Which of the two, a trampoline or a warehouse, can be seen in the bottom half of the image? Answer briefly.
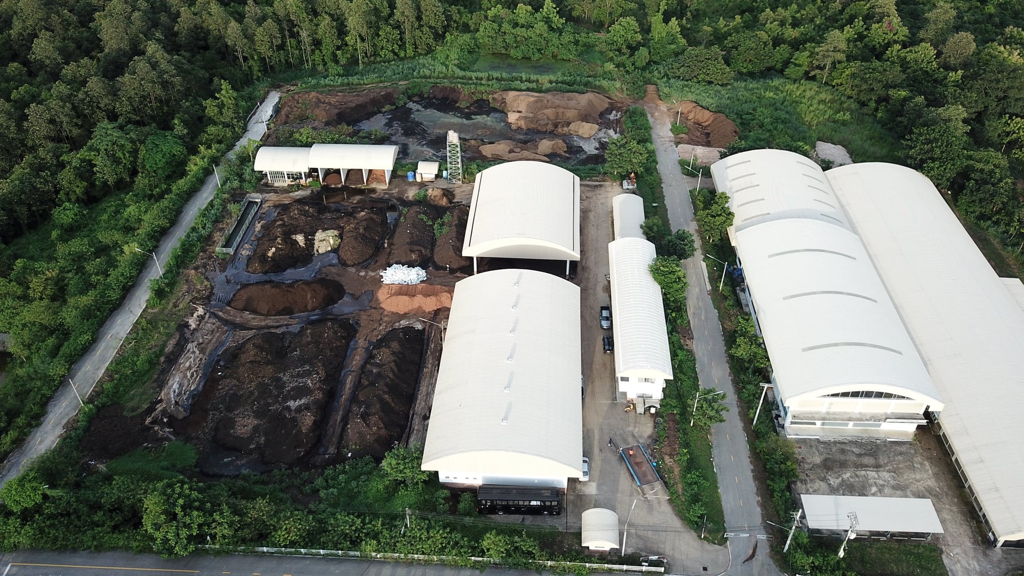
warehouse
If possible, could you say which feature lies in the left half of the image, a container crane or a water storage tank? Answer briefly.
water storage tank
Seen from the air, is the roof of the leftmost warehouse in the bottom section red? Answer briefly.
No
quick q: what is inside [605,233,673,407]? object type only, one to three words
house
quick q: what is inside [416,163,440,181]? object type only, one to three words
building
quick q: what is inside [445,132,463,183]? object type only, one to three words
water tower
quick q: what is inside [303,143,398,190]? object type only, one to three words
shed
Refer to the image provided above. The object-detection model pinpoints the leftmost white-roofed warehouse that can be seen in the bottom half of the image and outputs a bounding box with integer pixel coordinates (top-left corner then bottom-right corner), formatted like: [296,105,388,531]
[421,263,584,495]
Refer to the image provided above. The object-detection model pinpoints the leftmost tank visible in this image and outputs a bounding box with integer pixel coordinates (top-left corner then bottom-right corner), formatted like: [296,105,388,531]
[215,190,262,253]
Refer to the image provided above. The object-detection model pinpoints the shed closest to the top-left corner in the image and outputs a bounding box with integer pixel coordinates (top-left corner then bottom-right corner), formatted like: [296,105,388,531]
[250,147,314,187]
